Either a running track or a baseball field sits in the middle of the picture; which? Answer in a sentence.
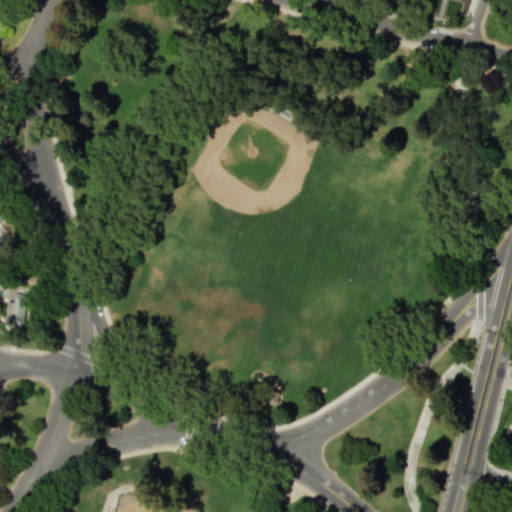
There is a baseball field in the middle of the picture.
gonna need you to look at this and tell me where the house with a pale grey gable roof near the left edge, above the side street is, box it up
[4,292,26,326]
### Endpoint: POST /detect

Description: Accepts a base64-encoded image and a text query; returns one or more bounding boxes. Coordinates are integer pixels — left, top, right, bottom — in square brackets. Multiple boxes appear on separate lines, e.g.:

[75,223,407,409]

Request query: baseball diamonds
[188,107,424,352]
